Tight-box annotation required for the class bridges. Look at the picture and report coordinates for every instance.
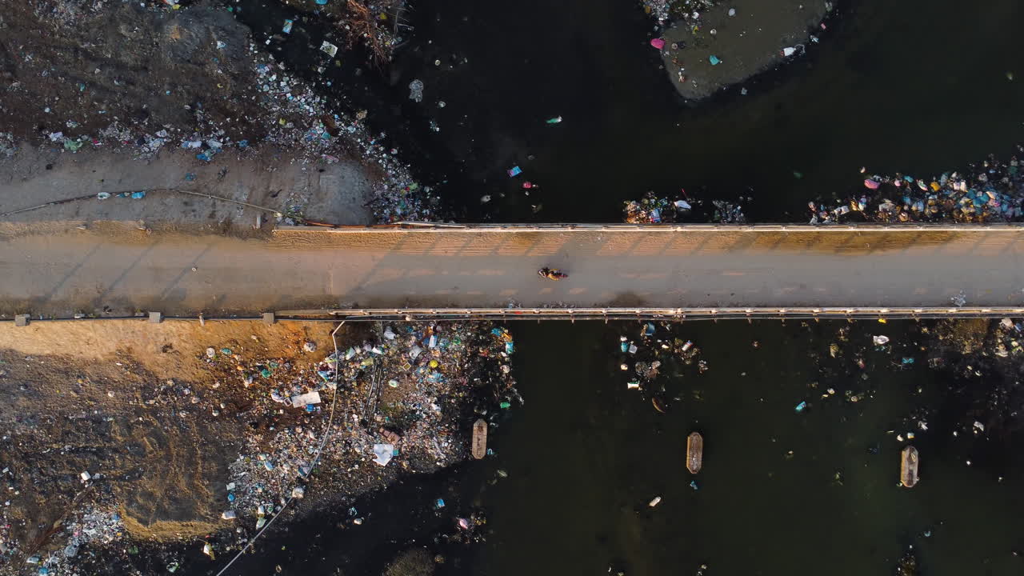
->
[325,225,1024,324]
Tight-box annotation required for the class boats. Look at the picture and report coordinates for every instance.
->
[899,445,917,487]
[472,419,487,459]
[686,432,701,474]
